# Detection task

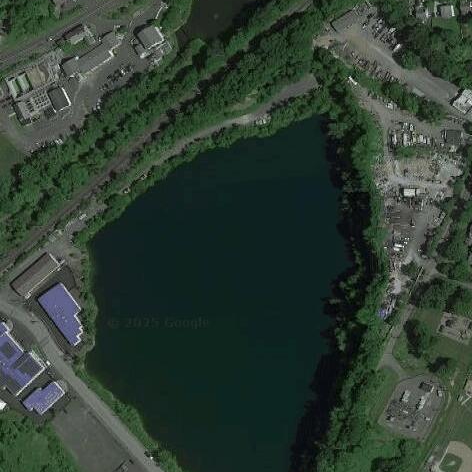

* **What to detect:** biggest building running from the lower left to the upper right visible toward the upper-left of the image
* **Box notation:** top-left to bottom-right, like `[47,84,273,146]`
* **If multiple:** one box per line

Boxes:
[63,32,126,76]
